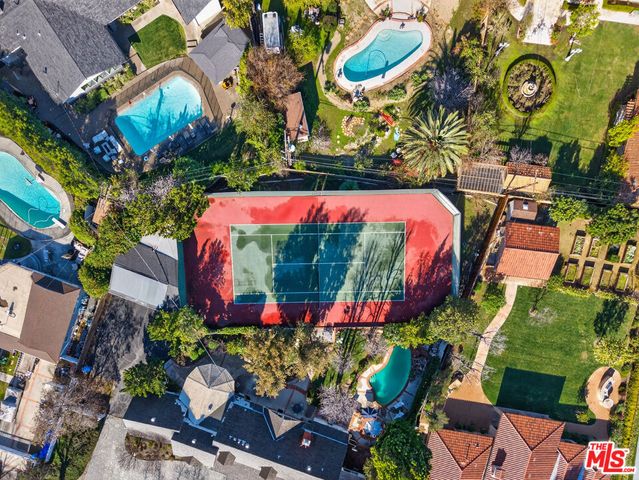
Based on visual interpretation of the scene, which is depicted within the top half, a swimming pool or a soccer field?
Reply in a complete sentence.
The one visible within the top half is a swimming pool.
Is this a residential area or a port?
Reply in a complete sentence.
This image shows a residential area.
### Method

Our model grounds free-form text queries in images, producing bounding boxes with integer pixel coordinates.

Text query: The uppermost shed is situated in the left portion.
[172,0,218,35]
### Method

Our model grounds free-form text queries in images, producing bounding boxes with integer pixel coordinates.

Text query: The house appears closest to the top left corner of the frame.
[0,0,149,102]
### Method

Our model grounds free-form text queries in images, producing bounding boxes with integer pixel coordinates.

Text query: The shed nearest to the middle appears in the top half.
[286,92,309,149]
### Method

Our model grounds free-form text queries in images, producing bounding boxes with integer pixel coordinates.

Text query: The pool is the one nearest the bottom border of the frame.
[364,337,417,411]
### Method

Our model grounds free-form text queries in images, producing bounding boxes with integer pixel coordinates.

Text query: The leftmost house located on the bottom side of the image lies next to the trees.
[0,262,88,366]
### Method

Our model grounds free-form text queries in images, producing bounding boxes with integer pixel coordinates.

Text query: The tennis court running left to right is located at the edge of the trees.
[185,193,452,326]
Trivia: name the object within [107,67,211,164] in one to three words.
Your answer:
swimming pool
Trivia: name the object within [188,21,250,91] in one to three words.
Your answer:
building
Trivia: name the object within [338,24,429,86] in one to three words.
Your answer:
swimming pool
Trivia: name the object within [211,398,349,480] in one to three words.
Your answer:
house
